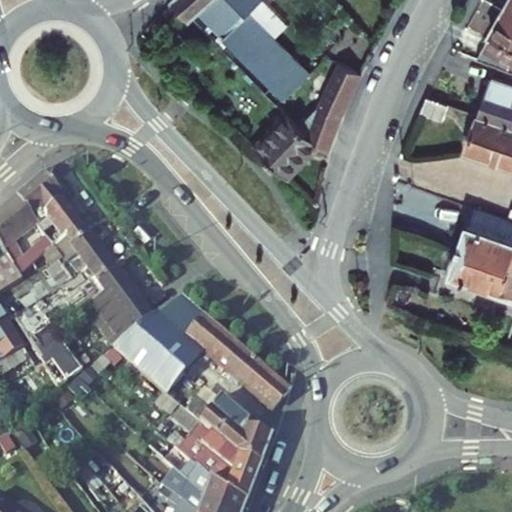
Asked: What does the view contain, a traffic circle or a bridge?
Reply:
traffic circle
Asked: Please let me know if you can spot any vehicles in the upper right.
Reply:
Yes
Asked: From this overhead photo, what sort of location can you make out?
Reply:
residential area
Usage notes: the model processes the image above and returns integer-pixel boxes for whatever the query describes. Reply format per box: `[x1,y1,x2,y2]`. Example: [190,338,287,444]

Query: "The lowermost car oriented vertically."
[266,471,278,492]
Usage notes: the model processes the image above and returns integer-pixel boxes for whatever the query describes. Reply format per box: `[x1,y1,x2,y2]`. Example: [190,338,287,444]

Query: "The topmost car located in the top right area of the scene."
[392,13,410,38]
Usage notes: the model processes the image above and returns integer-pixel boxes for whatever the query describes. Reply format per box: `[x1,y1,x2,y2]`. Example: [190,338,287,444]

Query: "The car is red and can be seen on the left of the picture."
[106,134,127,148]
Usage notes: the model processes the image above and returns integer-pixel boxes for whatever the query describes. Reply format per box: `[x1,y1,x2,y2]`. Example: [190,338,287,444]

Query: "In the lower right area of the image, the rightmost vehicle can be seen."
[376,457,398,474]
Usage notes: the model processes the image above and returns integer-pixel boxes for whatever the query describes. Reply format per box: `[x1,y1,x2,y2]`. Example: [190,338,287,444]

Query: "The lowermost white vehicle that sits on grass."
[133,226,152,246]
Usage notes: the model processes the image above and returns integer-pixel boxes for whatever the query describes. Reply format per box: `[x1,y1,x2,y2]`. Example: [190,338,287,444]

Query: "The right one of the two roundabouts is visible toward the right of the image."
[328,371,414,457]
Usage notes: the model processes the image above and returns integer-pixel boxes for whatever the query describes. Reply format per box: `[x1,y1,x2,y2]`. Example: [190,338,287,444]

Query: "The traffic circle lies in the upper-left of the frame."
[6,20,104,118]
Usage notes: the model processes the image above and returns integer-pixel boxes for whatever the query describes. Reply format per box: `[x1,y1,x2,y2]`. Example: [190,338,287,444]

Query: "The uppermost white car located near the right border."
[468,66,489,78]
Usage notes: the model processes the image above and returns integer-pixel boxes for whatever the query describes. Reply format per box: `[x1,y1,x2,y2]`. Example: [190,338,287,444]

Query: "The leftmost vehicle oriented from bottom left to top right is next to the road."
[134,190,156,208]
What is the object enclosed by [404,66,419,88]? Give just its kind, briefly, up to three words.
car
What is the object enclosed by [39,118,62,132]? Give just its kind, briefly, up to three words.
car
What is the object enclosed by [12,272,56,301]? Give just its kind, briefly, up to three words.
shed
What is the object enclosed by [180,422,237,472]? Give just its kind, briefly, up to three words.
house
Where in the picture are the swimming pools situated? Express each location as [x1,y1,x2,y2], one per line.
[58,428,74,443]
